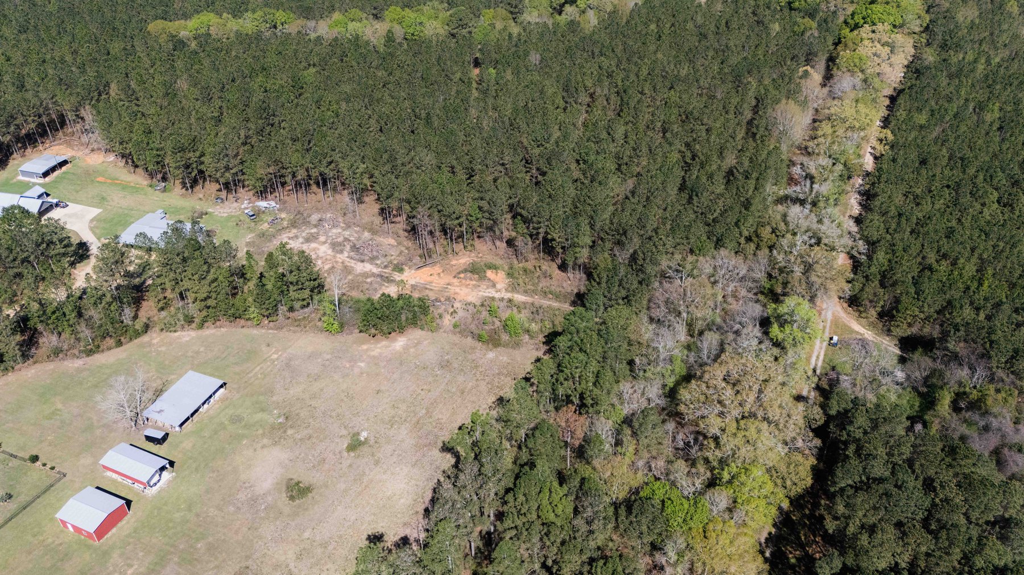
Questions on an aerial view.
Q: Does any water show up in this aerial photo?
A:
No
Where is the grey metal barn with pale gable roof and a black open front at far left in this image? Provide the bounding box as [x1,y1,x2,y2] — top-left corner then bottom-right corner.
[18,154,69,180]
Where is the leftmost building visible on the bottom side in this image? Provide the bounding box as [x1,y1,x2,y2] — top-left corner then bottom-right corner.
[56,487,130,544]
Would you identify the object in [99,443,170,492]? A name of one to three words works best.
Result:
shed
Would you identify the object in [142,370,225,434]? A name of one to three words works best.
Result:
shed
